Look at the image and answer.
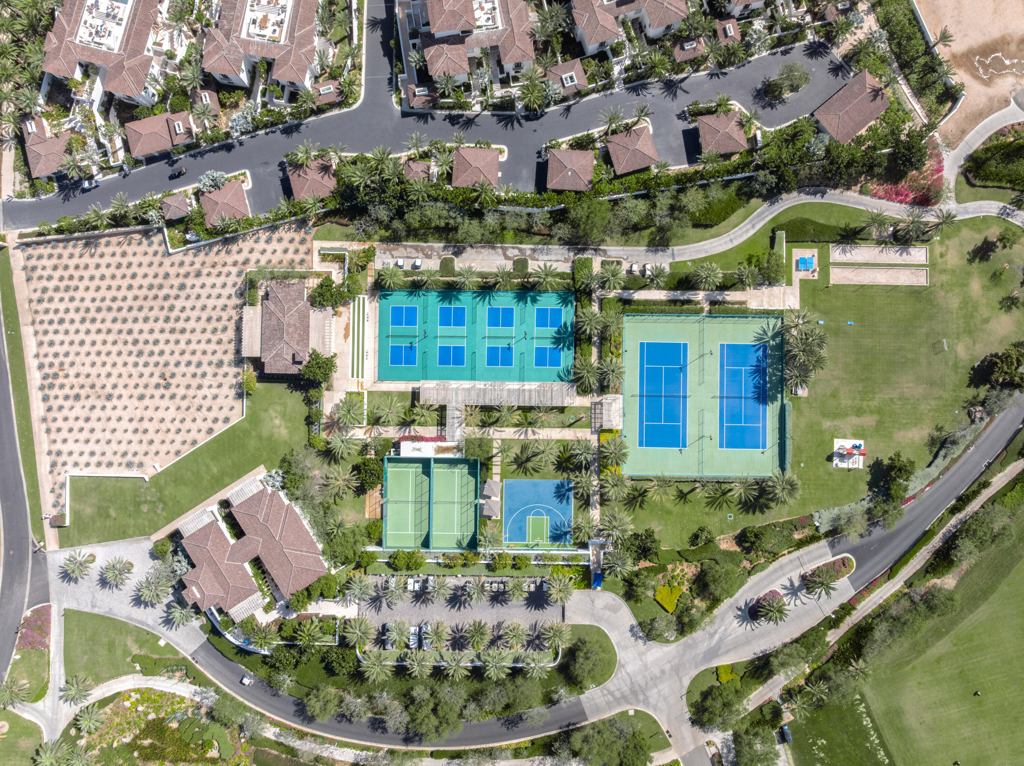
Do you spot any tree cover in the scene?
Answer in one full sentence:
Yes, there is tree cover in the image.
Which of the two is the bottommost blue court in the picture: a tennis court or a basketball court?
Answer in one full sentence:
I'd say the bottommost blue court is a basketball court.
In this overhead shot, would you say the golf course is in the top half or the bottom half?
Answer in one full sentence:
You can find the golf course in the bottom half.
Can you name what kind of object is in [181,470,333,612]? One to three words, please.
building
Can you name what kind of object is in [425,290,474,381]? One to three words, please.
sports court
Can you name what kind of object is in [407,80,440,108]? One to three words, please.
shed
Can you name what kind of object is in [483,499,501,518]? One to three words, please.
umbrella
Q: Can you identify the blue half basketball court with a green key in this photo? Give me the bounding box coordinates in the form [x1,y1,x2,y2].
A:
[503,479,574,549]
